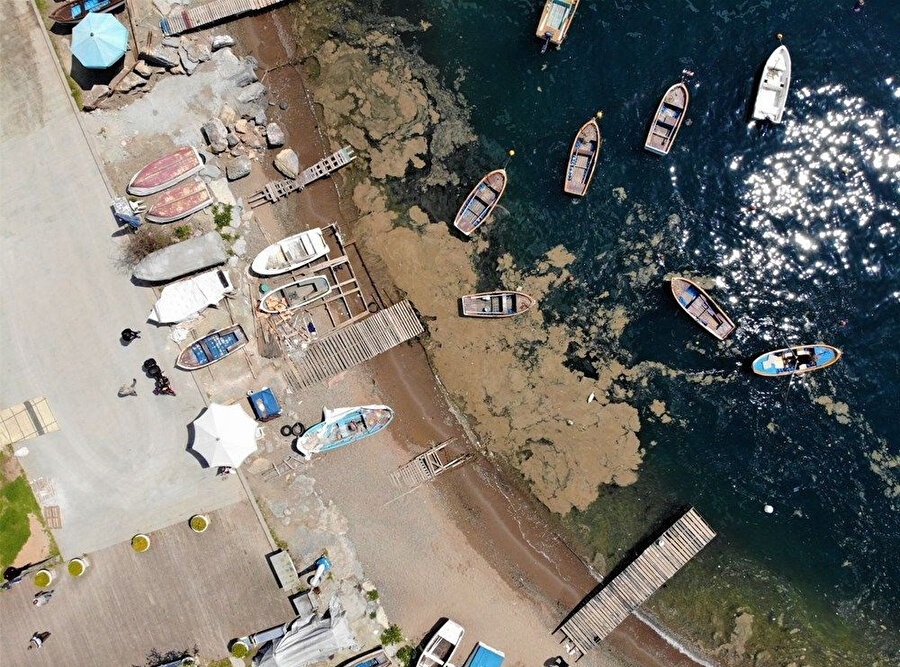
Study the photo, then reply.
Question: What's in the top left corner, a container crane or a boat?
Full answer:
It is a boat that can be seen in the top left corner.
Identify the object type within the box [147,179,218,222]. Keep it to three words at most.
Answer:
boat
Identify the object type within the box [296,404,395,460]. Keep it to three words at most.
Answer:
boat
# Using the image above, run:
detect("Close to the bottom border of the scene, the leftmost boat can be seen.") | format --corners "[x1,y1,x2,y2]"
[255,591,358,667]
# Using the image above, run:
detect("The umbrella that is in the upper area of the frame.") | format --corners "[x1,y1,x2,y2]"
[72,13,130,69]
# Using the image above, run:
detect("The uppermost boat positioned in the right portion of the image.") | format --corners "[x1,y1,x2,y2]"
[532,0,580,47]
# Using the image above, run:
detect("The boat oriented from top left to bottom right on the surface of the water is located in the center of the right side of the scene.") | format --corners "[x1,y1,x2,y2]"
[669,277,732,341]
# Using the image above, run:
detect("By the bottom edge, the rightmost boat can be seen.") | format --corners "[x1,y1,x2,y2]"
[465,638,505,667]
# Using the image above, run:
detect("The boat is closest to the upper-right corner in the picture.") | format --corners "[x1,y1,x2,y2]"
[751,41,793,128]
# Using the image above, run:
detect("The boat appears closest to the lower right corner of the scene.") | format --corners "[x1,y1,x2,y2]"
[748,342,846,375]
